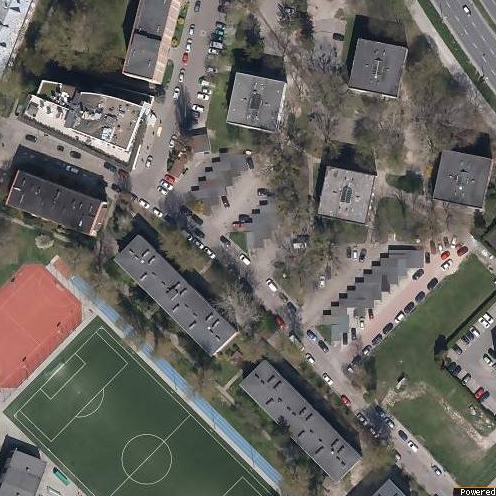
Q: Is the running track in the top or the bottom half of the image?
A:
bottom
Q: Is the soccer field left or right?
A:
left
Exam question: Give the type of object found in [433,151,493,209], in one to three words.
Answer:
building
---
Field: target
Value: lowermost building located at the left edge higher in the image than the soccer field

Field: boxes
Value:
[8,170,109,237]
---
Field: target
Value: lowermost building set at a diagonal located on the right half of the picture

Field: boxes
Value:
[241,360,362,481]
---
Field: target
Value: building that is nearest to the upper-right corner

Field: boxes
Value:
[349,39,409,98]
